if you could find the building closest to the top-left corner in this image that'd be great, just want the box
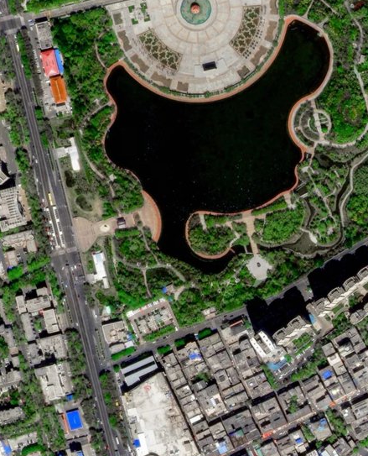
[36,21,54,51]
